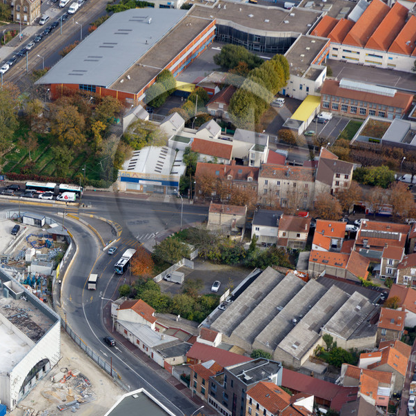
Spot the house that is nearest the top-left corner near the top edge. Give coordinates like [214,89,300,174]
[12,0,41,24]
